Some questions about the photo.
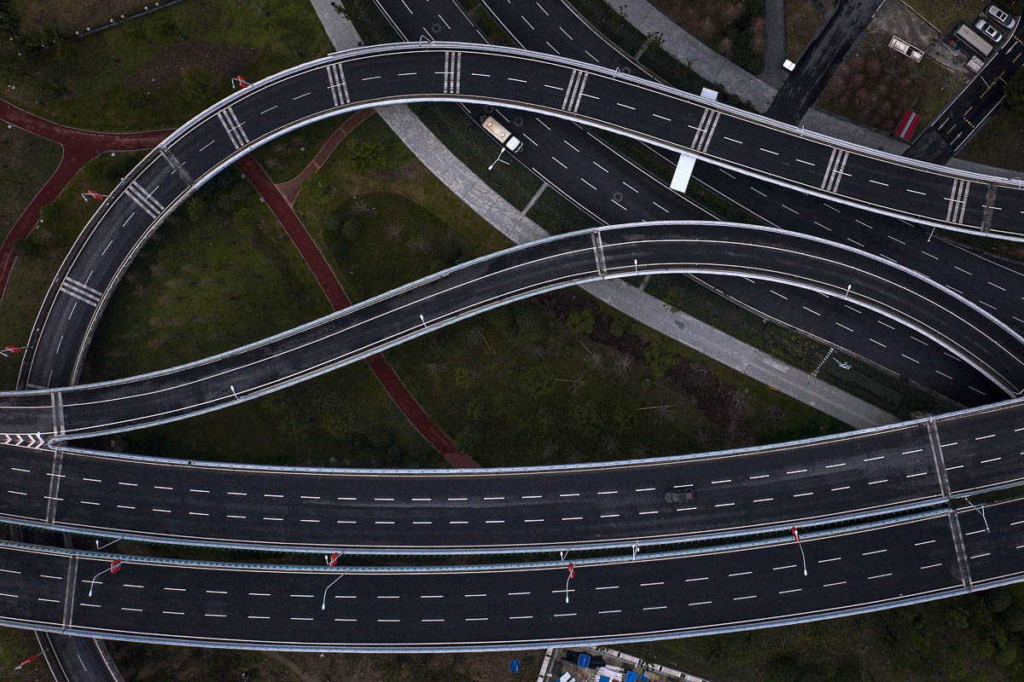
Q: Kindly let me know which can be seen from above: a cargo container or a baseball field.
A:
cargo container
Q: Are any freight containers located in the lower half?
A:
No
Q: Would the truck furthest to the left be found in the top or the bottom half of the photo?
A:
top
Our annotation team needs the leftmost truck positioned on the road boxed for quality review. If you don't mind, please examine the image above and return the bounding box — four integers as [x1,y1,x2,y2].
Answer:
[482,116,523,154]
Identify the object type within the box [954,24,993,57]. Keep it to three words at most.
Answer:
shipping container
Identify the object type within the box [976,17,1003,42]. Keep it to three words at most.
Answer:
car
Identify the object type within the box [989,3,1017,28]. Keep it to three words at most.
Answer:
car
